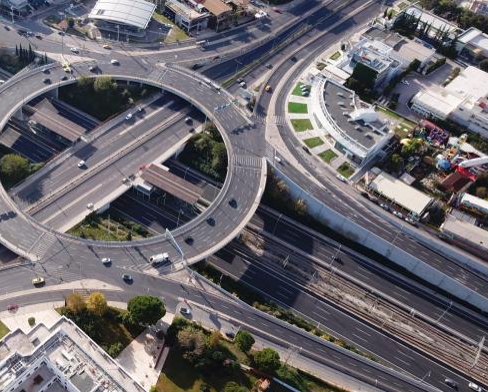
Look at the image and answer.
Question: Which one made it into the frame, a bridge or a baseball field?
bridge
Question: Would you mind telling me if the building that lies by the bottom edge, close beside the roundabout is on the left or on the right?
left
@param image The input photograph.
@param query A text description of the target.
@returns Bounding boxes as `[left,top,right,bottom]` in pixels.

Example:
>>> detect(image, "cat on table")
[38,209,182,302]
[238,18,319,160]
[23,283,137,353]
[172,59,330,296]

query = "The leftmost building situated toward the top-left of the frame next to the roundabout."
[88,0,156,41]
